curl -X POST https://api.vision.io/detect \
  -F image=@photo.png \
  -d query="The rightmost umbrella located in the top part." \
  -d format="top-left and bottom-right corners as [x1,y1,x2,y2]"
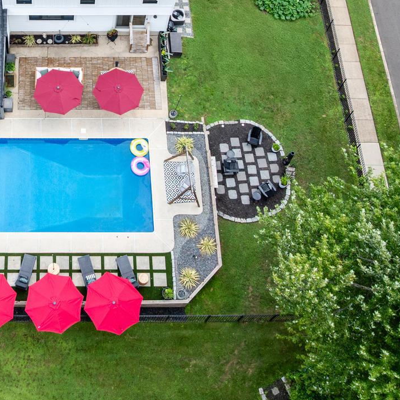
[91,71,144,118]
